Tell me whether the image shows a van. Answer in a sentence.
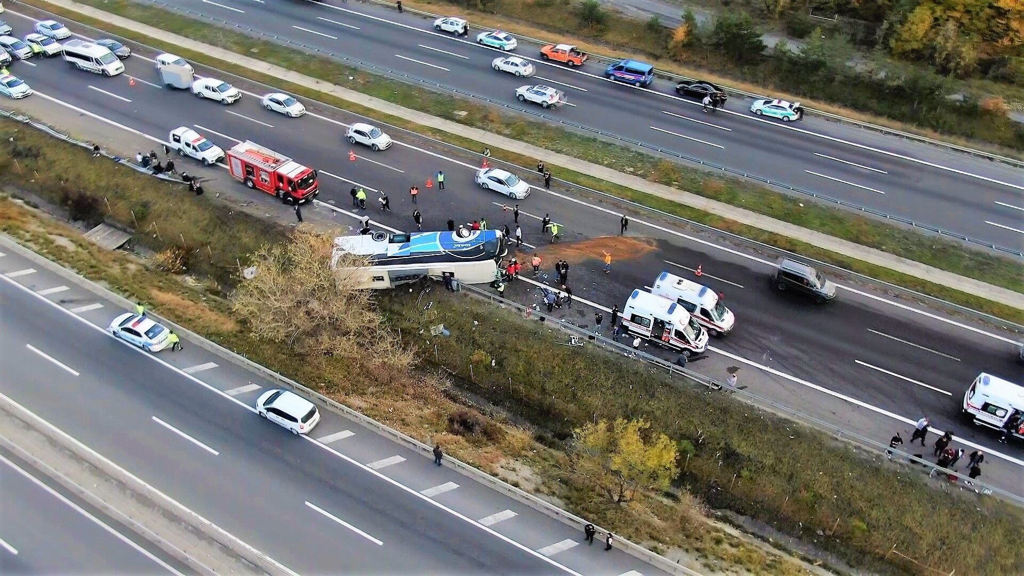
Yes, looking at the shot, I can spot a van.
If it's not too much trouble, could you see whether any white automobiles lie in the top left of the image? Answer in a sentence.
Yes, a white automobile shows up in the top left of the image.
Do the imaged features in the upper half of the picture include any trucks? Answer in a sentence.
Yes, you'll find a truck in the upper half of the picture.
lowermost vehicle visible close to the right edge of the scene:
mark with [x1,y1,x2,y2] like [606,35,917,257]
[962,367,1024,436]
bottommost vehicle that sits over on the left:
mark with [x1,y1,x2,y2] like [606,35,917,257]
[253,389,324,438]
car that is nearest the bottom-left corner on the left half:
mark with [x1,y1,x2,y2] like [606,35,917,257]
[108,311,173,356]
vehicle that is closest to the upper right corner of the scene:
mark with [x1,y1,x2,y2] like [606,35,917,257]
[749,99,800,125]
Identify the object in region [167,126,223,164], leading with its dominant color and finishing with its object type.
white truck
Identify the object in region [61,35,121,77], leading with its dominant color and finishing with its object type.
white vehicle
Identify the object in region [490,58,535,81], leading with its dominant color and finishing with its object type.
white car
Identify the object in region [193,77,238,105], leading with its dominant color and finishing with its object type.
white car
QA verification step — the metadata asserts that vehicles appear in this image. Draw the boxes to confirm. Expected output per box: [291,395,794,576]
[490,58,535,81]
[473,168,530,201]
[61,35,121,77]
[193,77,238,105]
[604,60,657,90]
[344,122,392,152]
[21,32,63,58]
[431,16,471,38]
[0,35,34,61]
[0,49,14,67]
[151,52,195,75]
[618,287,710,357]
[648,268,737,336]
[767,256,840,303]
[33,21,73,42]
[539,44,590,69]
[223,139,318,206]
[673,80,727,106]
[0,77,33,102]
[0,19,17,36]
[253,389,324,438]
[475,31,518,53]
[167,126,223,164]
[514,86,562,112]
[962,367,1024,436]
[108,311,173,356]
[260,93,306,119]
[749,99,800,125]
